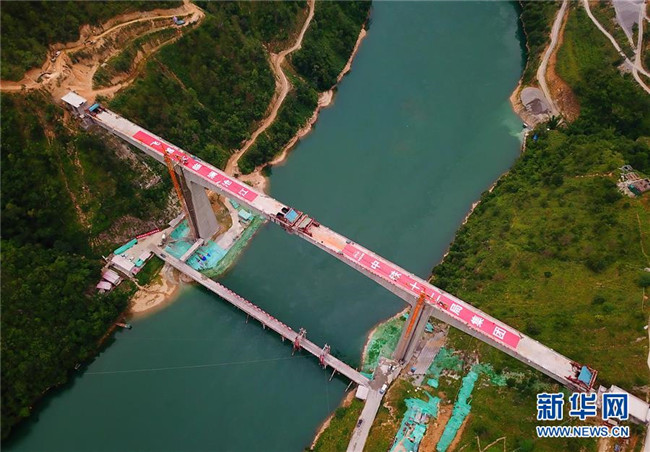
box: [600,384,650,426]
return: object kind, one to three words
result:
building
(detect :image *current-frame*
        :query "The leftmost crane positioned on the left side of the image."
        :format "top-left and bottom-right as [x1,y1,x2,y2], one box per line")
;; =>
[157,141,192,242]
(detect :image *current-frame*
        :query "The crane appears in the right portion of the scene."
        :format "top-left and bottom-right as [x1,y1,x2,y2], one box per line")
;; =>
[395,280,426,368]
